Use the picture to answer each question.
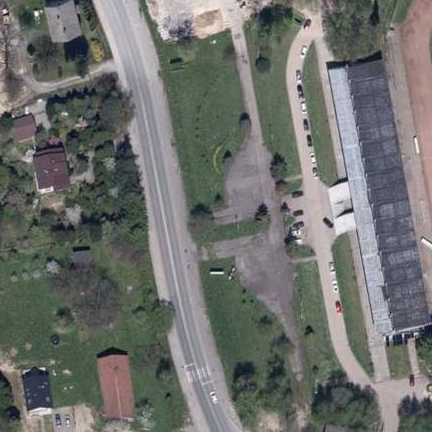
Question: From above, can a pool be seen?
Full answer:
No, no pool can be seen from above.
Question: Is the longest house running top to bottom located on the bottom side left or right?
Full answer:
The longest house running top to bottom located on the bottom side sits on the left side.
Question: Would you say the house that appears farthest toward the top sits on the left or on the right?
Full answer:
The house that appears farthest toward the top sits on the left side.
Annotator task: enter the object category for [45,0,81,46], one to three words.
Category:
house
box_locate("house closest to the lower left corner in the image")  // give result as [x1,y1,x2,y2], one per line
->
[23,371,52,412]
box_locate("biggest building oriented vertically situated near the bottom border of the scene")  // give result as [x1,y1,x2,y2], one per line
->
[98,355,134,421]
